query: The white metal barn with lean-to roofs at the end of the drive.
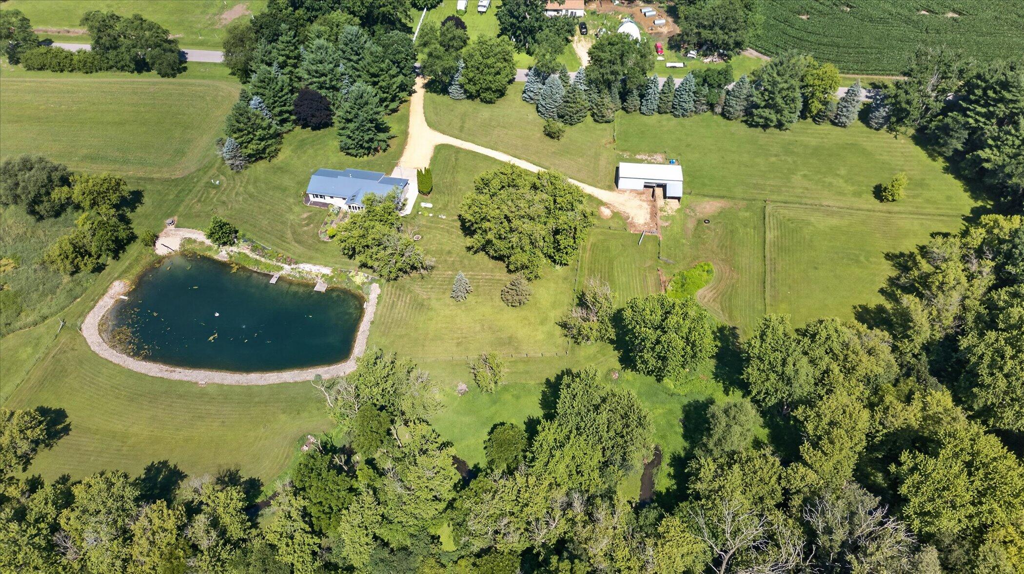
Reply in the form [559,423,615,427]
[617,162,683,206]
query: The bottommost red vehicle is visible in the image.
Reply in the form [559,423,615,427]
[652,42,668,56]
